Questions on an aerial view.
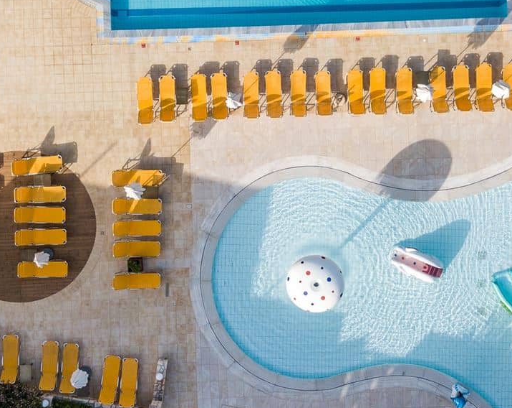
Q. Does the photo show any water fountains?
Yes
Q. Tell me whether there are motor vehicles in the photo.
No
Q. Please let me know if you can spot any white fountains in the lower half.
Yes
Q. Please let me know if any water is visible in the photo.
Yes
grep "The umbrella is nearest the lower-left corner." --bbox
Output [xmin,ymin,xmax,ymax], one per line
[72,362,96,384]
